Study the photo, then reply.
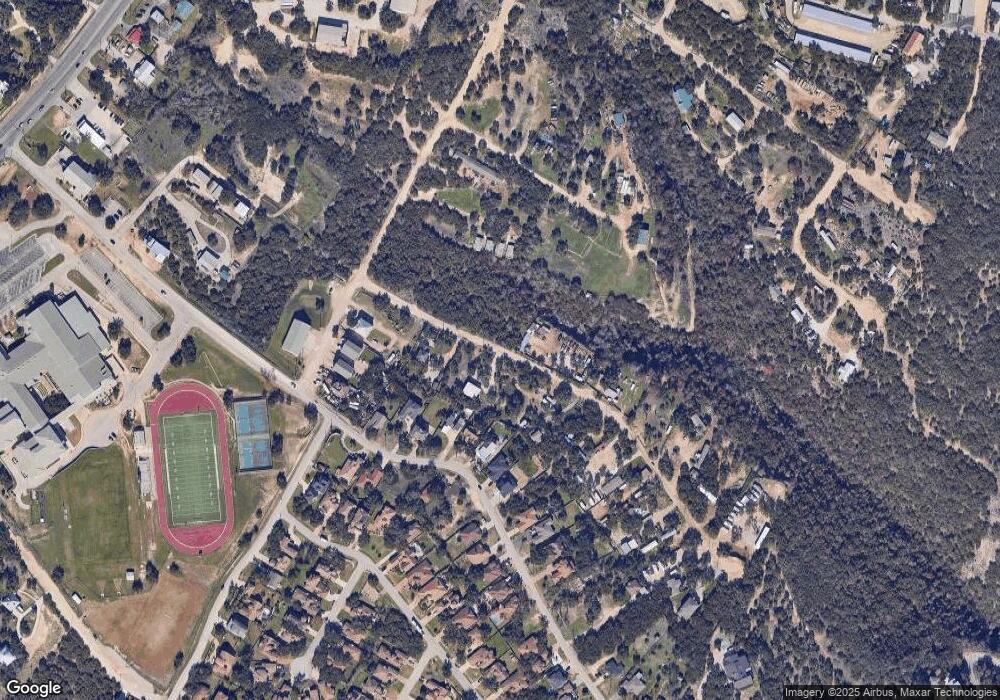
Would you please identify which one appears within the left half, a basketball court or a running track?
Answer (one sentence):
You can see a running track within the left half.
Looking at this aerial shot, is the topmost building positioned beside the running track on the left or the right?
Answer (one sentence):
It is on the left.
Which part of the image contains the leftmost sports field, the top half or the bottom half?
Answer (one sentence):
Seen from above, the leftmost sports field lies in the bottom half of the view.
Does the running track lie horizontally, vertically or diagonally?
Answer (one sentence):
The running track is laid out vertically.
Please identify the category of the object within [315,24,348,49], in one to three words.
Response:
building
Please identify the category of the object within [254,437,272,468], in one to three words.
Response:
tennis court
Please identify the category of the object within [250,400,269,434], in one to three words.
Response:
tennis court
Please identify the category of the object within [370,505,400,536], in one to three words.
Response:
house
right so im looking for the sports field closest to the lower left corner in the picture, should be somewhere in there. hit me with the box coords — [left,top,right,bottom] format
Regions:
[70,452,130,596]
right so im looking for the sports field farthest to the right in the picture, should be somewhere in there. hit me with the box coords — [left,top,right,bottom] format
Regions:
[158,411,227,527]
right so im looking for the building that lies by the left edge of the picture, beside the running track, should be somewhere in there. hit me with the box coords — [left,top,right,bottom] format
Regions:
[0,296,112,478]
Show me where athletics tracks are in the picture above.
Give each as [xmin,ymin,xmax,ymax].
[149,379,236,557]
